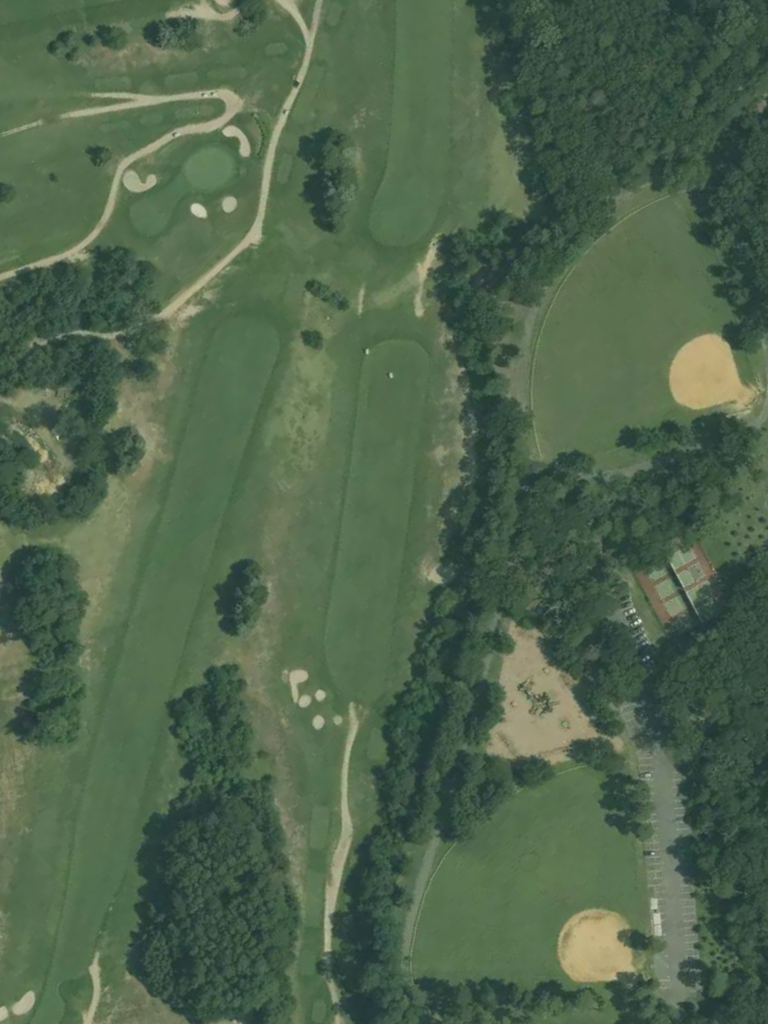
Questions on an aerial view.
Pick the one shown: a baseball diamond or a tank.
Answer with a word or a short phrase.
baseball diamond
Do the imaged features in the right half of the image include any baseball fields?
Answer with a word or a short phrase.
Yes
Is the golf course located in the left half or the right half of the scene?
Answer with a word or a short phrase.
left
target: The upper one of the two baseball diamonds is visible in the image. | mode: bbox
[532,191,761,459]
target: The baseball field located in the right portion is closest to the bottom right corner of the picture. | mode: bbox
[411,764,647,998]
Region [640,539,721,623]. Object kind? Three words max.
sports court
